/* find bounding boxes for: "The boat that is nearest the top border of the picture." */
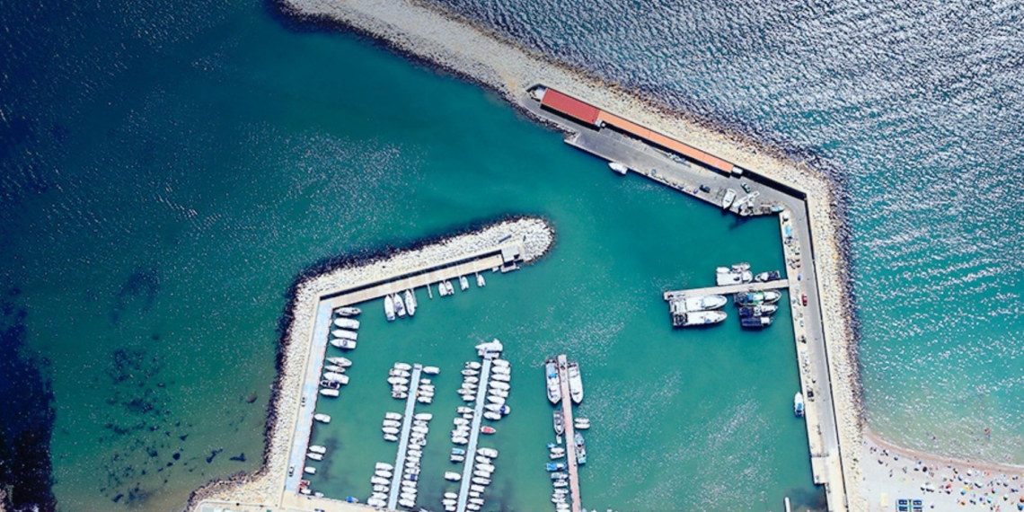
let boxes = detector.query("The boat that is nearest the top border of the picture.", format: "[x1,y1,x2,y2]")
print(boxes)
[609,163,628,175]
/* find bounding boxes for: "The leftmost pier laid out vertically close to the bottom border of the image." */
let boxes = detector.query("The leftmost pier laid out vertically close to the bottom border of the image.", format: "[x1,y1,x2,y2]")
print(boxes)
[388,369,420,512]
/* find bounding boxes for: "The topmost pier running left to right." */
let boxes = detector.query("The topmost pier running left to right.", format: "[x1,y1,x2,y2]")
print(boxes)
[664,279,789,300]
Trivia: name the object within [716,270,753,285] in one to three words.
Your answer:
ship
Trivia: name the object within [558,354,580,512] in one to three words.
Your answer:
pier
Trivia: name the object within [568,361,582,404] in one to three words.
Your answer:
boat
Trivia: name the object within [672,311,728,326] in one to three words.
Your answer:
boat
